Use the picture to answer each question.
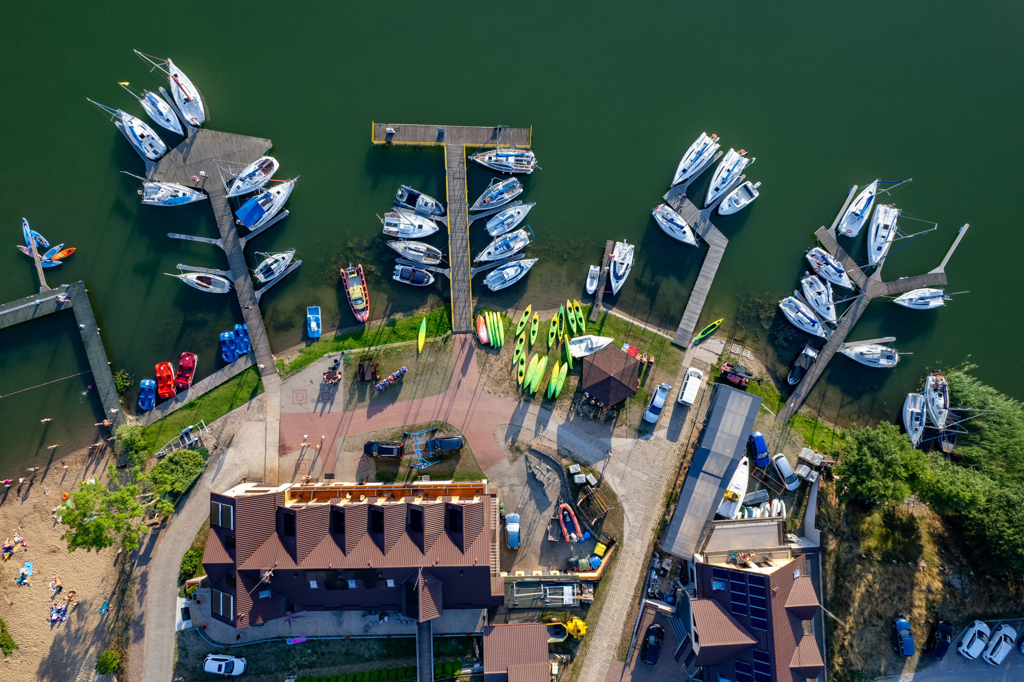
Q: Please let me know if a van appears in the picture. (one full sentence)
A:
Yes, the image includes a van.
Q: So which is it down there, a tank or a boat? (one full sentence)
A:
The one in the frame is a boat.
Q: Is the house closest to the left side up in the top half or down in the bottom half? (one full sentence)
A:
It is in the bottom half that the house closest to the left side appears.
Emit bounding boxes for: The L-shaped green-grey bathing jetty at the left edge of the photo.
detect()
[0,237,128,431]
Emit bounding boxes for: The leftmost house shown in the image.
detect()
[201,474,509,628]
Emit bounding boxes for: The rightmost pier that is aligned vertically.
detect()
[663,151,745,347]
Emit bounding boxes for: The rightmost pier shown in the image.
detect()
[776,185,969,423]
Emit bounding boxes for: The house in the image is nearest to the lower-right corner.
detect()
[684,539,823,682]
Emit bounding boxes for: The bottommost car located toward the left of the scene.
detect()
[202,652,247,678]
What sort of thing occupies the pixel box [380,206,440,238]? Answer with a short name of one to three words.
boat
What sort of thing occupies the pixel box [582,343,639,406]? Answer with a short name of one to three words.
gazebo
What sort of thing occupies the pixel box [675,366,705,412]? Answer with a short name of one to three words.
van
